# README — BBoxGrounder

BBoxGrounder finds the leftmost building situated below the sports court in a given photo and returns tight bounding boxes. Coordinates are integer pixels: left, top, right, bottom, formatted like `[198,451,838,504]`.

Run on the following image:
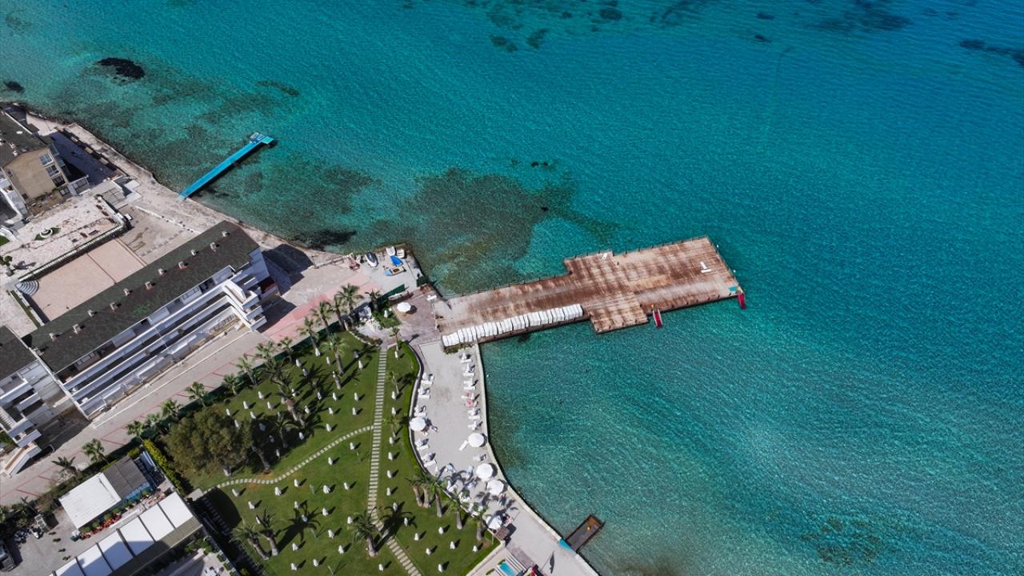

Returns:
[0,326,78,475]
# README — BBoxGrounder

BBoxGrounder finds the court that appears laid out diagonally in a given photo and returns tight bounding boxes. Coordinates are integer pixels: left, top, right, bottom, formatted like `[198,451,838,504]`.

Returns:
[40,242,148,321]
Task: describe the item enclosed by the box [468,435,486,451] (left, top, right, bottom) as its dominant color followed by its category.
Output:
white umbrella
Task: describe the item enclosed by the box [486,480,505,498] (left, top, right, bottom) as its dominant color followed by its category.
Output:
white umbrella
